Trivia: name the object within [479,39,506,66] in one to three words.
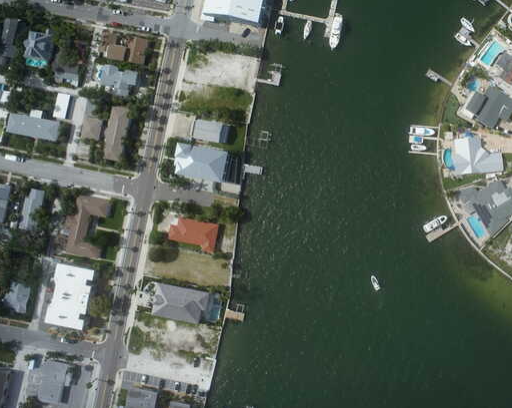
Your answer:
swimming pool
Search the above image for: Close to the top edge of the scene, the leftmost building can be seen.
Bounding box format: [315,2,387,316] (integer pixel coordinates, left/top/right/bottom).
[0,17,21,64]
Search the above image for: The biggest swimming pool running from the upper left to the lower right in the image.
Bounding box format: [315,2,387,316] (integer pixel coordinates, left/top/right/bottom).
[466,215,487,239]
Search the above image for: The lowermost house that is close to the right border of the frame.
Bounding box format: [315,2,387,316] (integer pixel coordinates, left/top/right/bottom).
[461,179,512,238]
